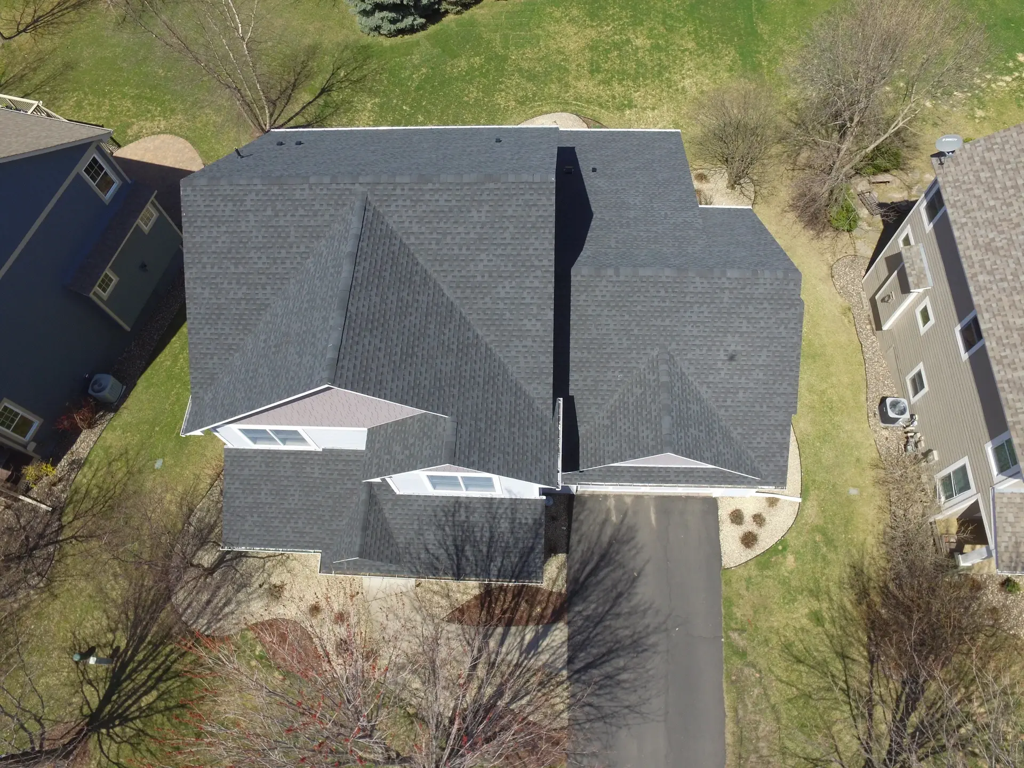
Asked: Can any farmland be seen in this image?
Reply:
No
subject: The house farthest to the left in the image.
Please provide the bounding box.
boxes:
[0,101,182,455]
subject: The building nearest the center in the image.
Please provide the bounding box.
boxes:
[176,128,805,585]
